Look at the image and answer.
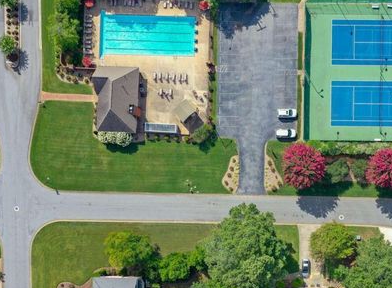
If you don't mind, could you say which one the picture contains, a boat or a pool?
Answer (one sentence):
It is a pool that can be seen here.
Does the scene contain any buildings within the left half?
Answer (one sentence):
Yes, you'll find a building within the left half.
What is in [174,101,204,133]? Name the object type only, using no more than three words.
building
